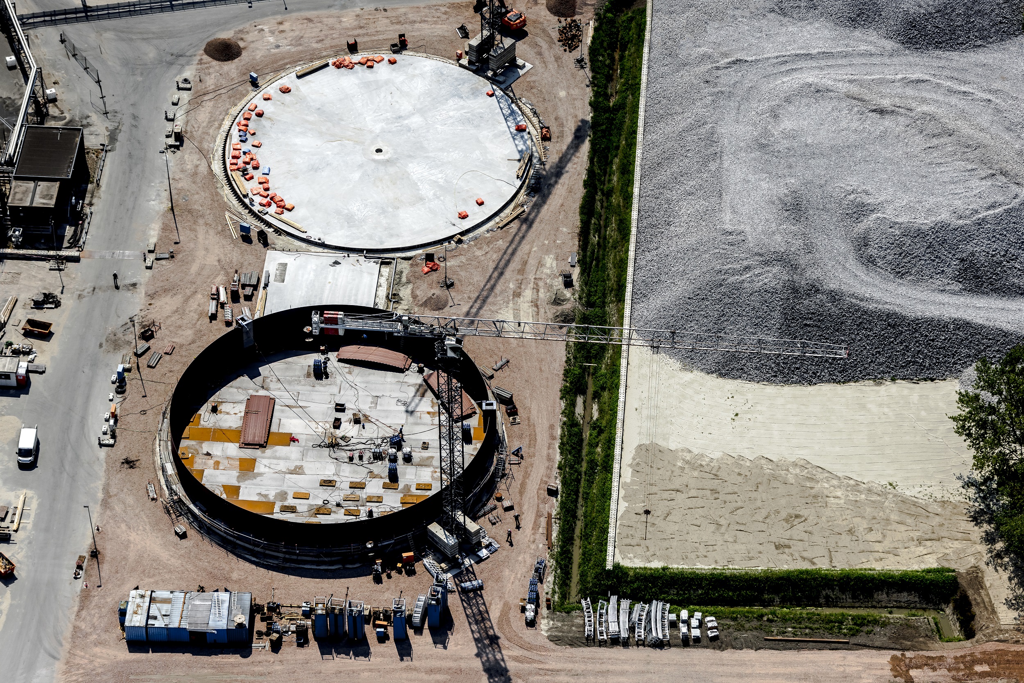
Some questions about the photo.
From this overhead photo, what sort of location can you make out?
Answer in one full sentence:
What you see here is an industrial area.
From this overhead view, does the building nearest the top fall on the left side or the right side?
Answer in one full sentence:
The building nearest the top appears in the left half of the scene.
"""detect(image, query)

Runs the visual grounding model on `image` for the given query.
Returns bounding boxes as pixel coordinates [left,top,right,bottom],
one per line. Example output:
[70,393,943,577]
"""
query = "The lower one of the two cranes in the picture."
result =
[311,301,849,575]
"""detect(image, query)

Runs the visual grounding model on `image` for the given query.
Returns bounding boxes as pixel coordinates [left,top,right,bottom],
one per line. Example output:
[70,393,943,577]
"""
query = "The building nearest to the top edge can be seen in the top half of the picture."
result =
[6,123,86,241]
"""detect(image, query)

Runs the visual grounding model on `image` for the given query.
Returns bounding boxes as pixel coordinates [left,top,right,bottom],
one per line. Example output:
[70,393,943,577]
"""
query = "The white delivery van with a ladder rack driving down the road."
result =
[10,427,39,476]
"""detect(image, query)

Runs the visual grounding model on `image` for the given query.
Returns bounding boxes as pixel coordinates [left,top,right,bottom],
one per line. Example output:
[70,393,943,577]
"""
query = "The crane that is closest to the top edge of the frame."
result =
[458,0,534,89]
